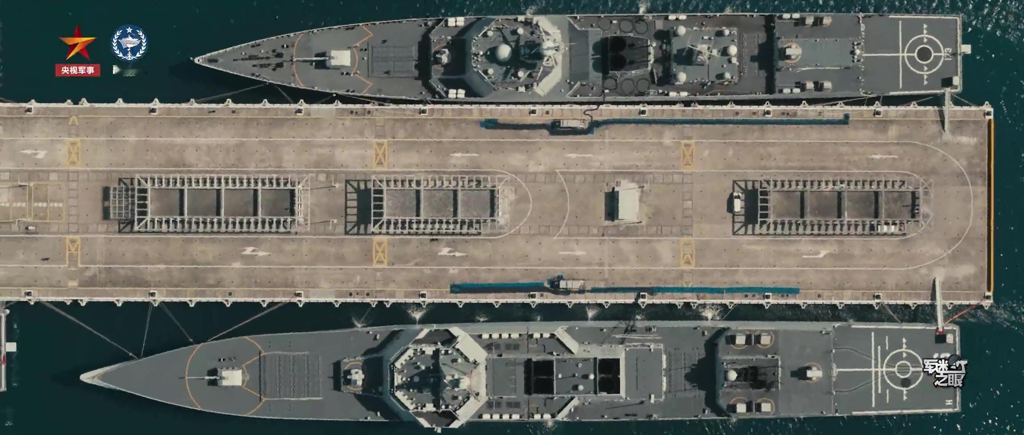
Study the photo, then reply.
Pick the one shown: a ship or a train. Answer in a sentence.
Looking from above, you can make out a ship.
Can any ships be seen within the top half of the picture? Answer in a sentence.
Yes, the scene does show a ship within the top half of the picture.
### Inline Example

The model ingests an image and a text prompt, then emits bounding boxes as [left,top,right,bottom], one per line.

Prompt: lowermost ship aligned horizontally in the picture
[80,320,959,433]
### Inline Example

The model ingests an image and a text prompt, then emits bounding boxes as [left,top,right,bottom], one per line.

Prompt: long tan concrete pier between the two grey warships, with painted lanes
[0,99,993,310]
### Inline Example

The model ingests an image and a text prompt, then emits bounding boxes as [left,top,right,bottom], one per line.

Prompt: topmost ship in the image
[190,13,972,103]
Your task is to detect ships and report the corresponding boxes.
[80,320,959,433]
[190,13,972,103]
[0,309,17,390]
